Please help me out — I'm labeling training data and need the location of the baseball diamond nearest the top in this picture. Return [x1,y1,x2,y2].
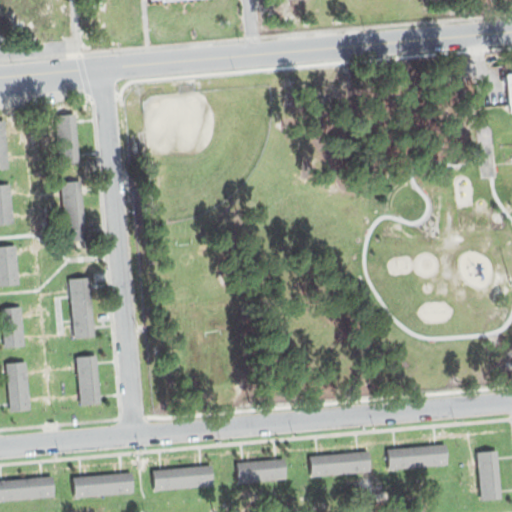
[142,87,281,221]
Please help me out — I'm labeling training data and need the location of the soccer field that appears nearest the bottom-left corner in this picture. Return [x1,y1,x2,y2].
[171,244,225,334]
